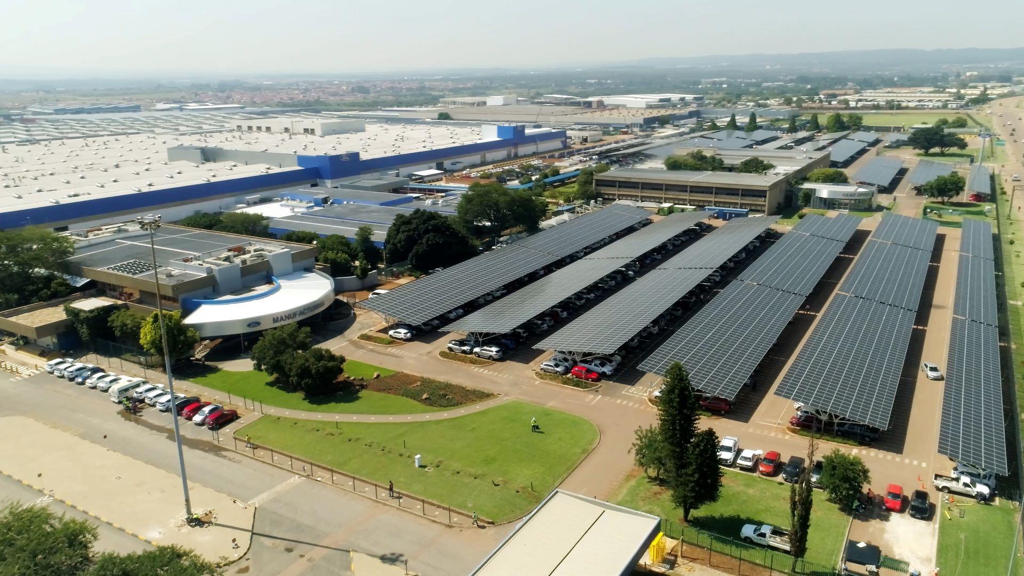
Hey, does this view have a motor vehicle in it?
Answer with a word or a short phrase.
Yes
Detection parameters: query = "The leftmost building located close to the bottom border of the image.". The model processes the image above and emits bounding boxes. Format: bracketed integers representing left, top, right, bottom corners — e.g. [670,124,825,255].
[472,490,662,576]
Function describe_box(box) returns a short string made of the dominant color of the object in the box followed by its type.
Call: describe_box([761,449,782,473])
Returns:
red car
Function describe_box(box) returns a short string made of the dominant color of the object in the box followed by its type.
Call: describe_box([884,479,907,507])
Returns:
red car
